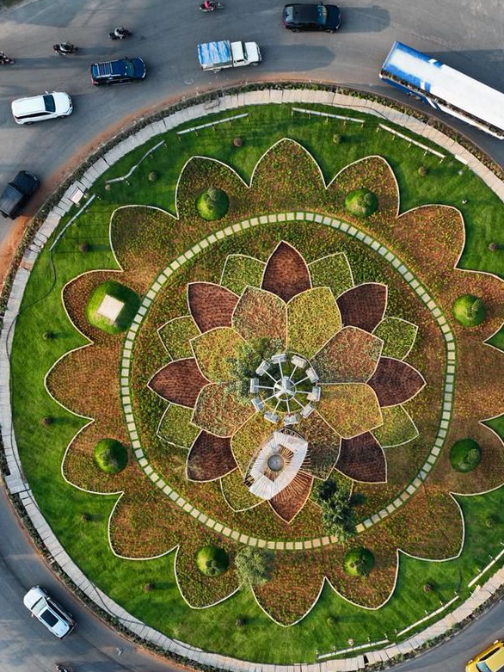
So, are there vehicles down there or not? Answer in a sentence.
Yes, you can see a vehicle in this photo.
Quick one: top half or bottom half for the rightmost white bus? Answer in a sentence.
You can find the rightmost white bus in the top half.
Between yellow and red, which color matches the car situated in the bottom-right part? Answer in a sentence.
In this view, the car situated in the bottom-right part is yellow.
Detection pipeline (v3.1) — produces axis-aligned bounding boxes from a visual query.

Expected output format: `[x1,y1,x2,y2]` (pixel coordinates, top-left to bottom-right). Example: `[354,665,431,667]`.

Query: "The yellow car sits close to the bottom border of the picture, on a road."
[464,641,504,672]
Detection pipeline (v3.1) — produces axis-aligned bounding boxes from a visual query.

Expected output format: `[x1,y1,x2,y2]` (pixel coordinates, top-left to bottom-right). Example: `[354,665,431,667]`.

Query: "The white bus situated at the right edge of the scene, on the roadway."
[379,42,504,142]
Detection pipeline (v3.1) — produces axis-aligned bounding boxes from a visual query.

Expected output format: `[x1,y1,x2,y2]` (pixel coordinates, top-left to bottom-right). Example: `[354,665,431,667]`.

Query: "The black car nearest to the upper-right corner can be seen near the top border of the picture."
[283,2,341,34]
